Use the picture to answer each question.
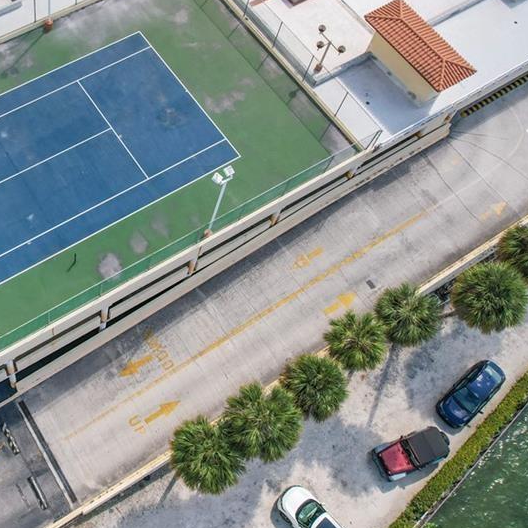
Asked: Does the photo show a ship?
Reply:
No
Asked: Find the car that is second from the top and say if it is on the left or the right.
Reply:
right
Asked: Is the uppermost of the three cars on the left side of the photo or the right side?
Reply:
right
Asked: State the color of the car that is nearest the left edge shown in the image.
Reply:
white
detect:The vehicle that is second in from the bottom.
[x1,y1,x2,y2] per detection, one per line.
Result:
[369,425,455,481]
